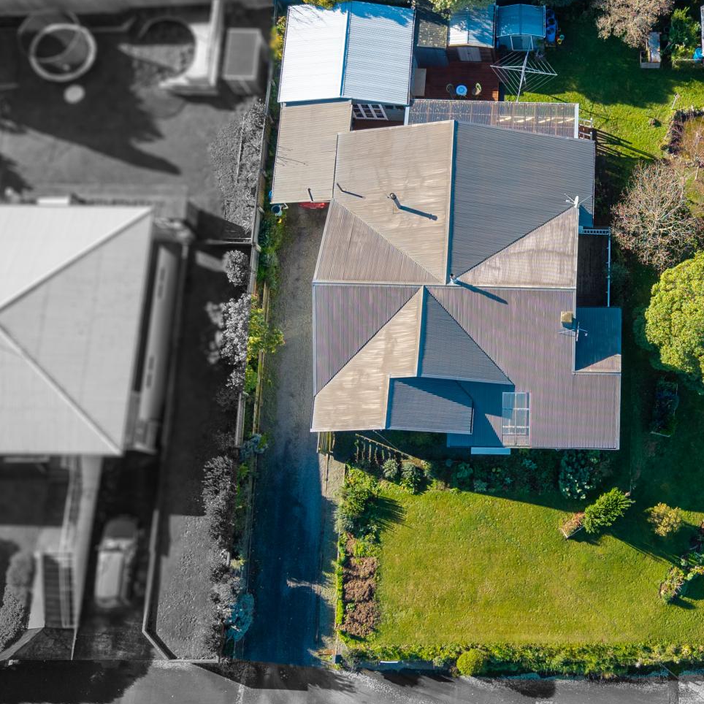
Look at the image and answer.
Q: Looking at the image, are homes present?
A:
Yes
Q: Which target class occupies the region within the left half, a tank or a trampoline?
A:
trampoline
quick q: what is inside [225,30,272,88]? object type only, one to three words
shed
